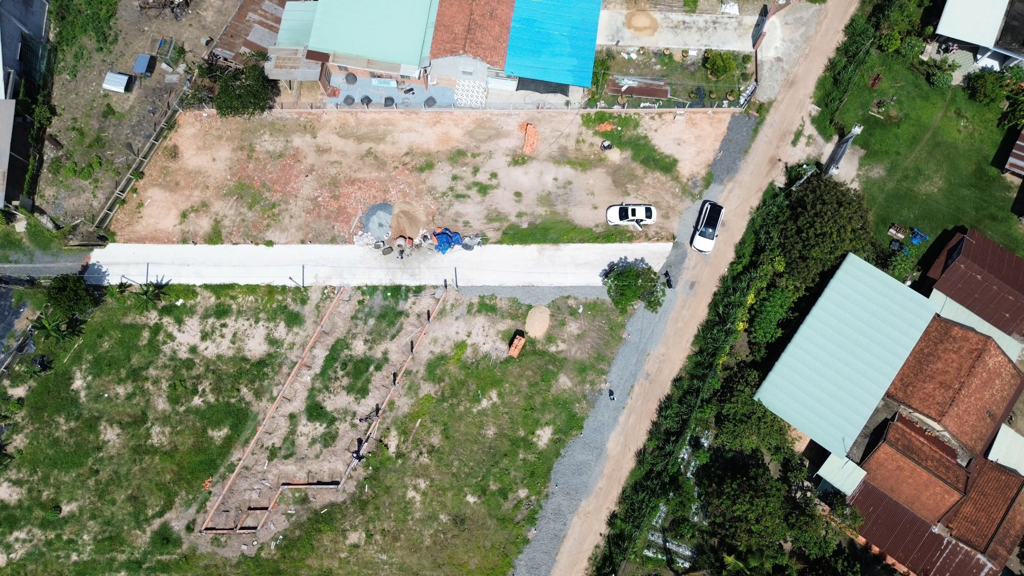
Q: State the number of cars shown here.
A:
two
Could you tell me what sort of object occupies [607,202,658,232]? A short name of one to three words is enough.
car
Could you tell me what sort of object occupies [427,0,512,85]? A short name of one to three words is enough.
house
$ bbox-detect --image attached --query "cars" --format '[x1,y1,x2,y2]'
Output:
[693,201,721,252]
[607,202,658,232]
